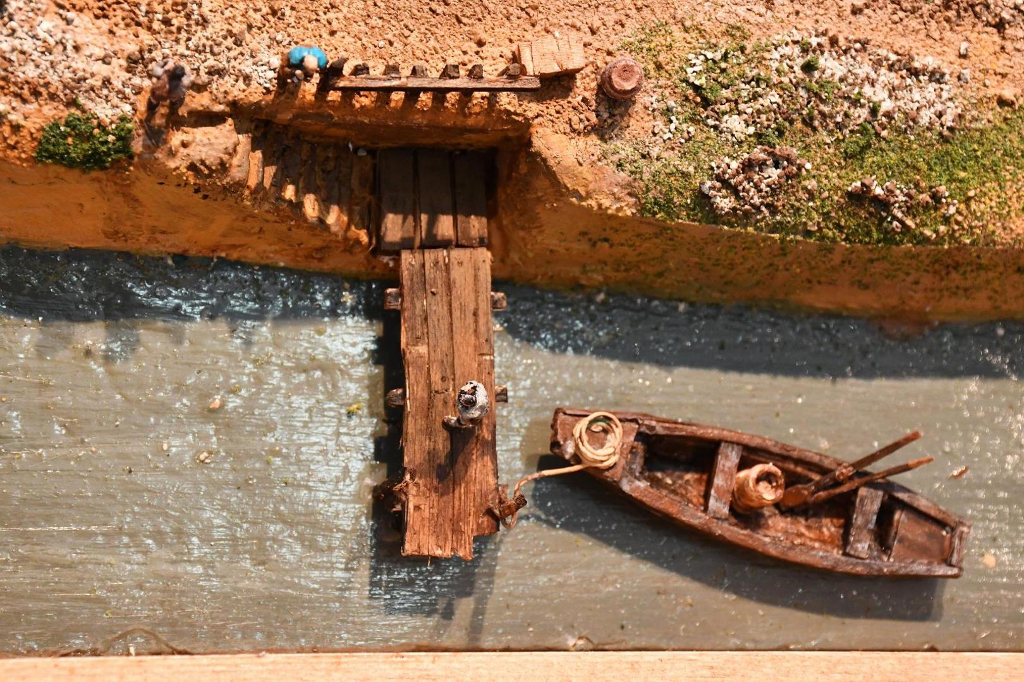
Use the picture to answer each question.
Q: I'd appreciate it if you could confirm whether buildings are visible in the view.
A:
No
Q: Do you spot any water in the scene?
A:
Yes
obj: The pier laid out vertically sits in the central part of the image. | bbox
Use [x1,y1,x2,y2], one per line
[377,247,527,566]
